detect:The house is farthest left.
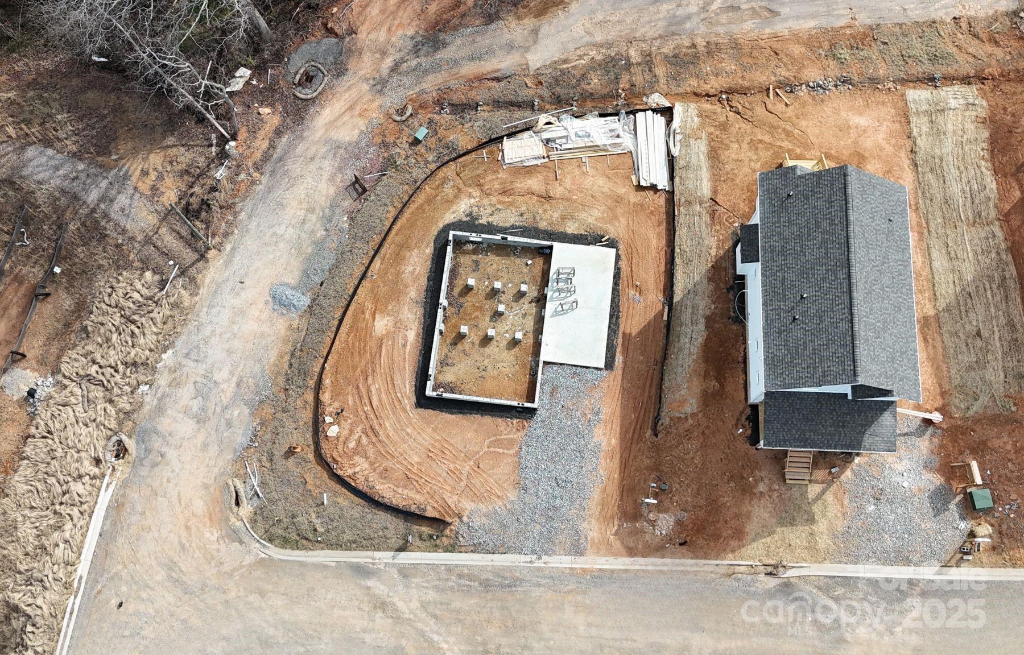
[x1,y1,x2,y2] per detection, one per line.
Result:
[733,146,924,485]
